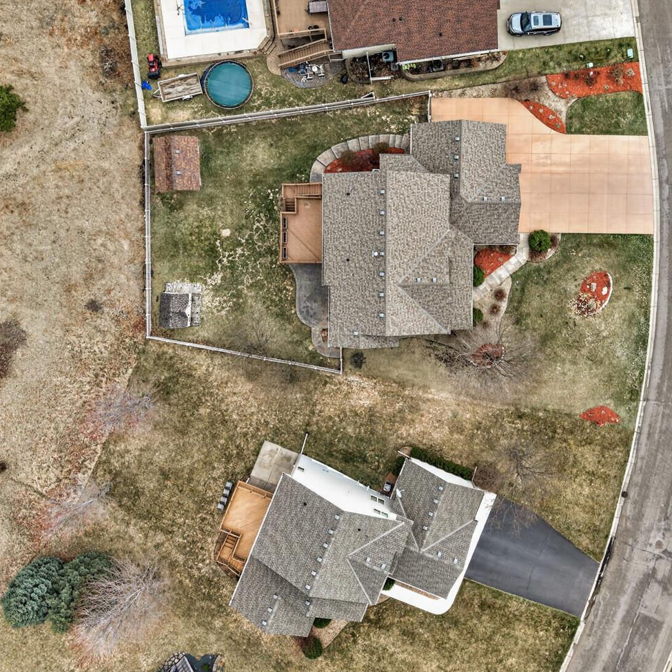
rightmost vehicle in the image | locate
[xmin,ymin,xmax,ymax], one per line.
[507,8,563,37]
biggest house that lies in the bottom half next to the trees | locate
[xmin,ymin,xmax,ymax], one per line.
[229,434,485,636]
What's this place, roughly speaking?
residential area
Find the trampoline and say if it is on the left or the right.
left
